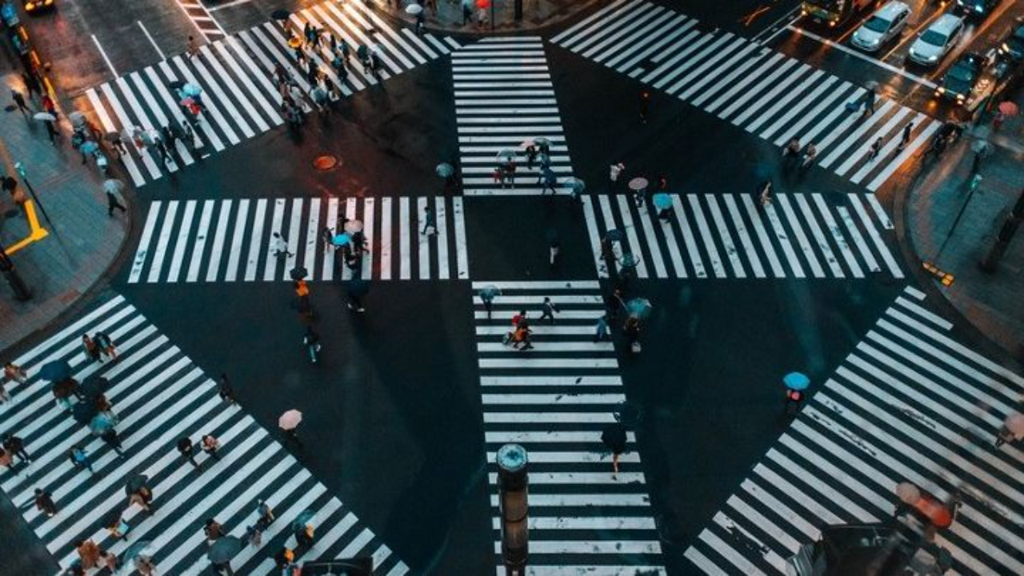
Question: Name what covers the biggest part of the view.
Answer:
paved ground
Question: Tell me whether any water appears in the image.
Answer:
No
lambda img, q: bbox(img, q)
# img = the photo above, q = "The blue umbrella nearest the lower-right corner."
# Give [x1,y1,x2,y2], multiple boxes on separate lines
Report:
[782,371,807,393]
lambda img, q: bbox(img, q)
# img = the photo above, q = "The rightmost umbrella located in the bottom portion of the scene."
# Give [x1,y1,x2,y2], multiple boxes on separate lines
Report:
[998,411,1024,437]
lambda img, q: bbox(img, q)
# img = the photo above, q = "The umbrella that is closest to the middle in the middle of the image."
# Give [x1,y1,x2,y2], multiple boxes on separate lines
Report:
[478,281,501,301]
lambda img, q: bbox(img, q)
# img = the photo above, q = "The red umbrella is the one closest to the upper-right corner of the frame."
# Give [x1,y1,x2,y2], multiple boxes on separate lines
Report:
[998,101,1020,118]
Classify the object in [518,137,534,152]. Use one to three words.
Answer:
umbrella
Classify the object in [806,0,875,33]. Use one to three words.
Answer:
vehicle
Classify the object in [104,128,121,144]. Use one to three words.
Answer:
umbrella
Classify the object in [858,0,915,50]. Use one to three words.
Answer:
car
